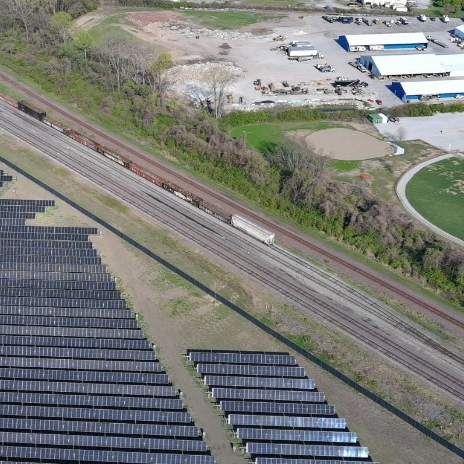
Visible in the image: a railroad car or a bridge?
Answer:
railroad car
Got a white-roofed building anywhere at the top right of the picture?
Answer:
Yes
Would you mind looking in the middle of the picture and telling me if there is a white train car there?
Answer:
Yes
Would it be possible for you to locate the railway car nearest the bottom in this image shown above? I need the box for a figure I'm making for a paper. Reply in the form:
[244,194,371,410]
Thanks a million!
[234,215,275,245]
